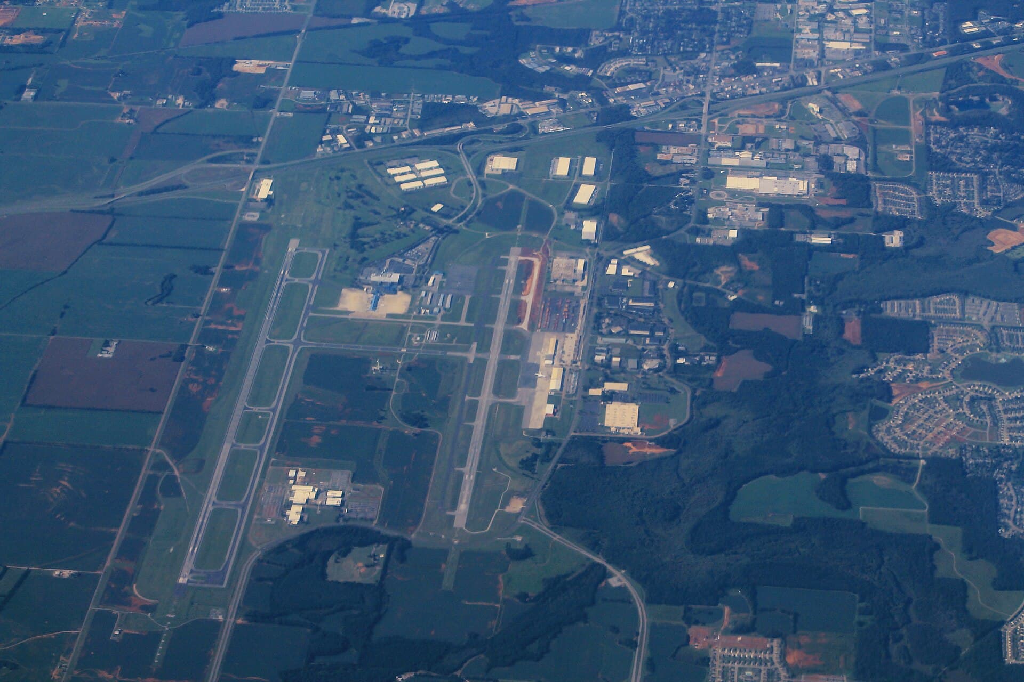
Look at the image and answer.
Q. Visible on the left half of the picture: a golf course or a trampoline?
golf course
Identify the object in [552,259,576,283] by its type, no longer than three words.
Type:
building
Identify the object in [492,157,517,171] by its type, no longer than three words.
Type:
building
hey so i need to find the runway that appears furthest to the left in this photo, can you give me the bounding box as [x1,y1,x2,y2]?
[179,247,296,582]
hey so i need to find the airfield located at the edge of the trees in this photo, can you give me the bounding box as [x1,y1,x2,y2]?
[133,134,614,628]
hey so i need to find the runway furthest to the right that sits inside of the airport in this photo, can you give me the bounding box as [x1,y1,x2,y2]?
[453,249,519,532]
